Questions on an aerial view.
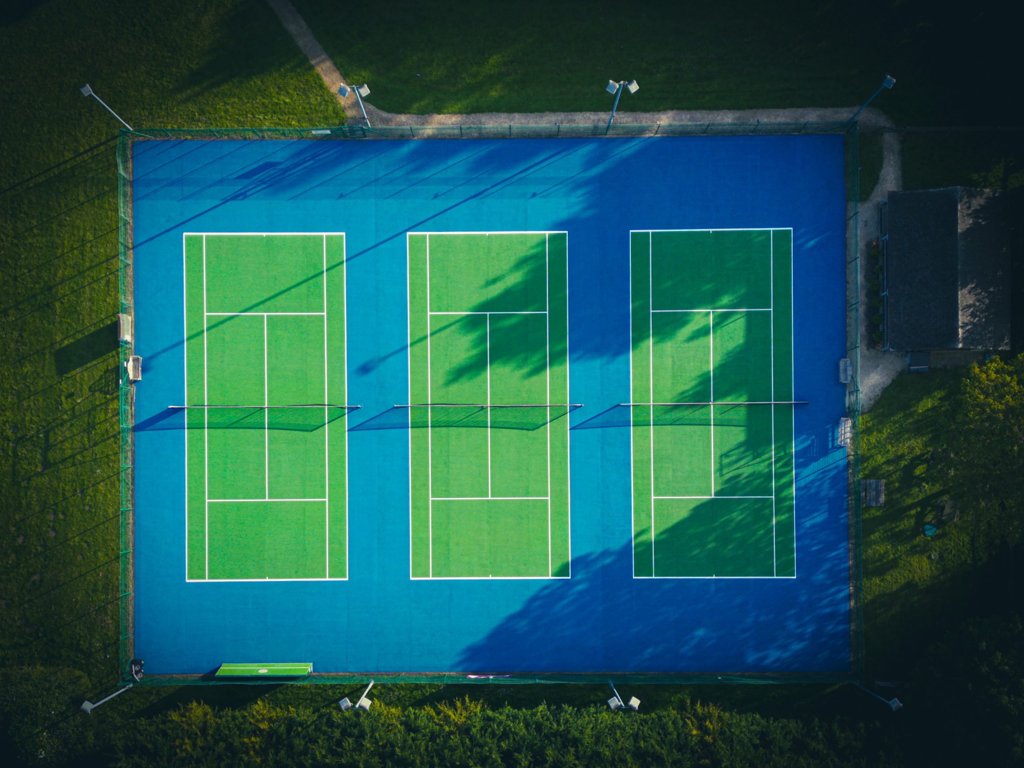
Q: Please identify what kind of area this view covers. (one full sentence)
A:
The picture captures a sports ground.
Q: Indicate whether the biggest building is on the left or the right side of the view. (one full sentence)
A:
The biggest building appears in the right half of the scene.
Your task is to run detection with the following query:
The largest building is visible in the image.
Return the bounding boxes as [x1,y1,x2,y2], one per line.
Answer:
[879,186,1012,355]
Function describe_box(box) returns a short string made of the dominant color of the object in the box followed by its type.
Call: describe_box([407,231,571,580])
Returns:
green tennis court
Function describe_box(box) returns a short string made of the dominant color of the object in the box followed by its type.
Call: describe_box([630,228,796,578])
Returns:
green tennis court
